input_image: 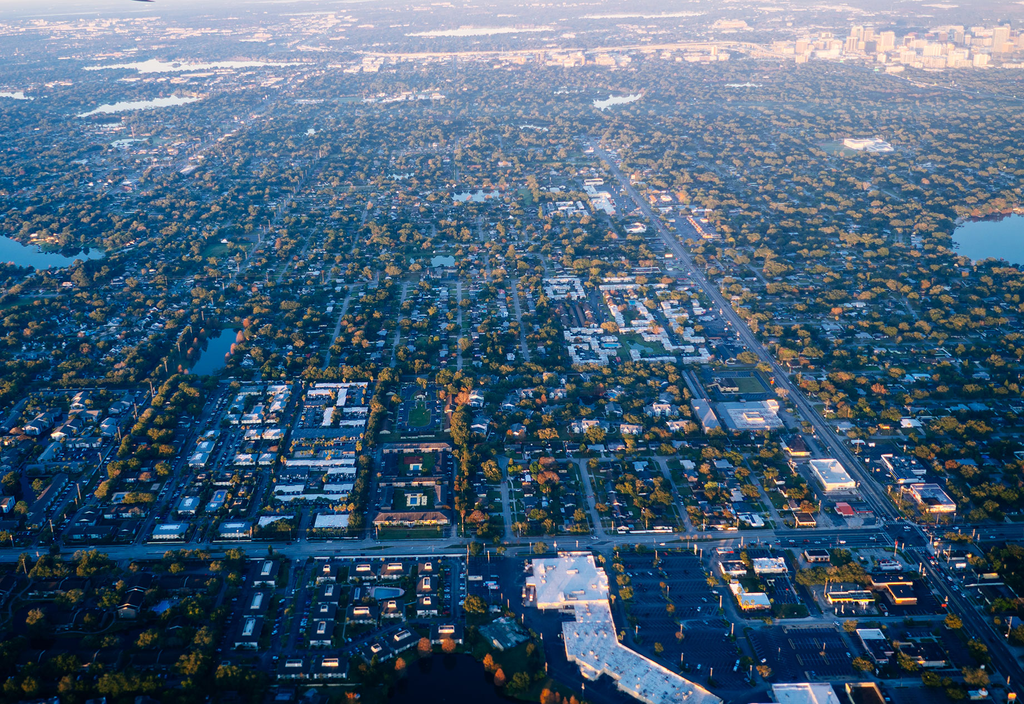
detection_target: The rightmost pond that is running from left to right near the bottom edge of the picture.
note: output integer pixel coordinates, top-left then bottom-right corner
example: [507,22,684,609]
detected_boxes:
[390,654,504,704]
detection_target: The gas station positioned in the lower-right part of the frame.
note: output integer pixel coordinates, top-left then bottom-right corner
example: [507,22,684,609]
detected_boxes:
[828,590,875,608]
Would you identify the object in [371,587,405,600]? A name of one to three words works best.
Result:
swimming pool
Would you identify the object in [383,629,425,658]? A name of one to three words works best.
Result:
building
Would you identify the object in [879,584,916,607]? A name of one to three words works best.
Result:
building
